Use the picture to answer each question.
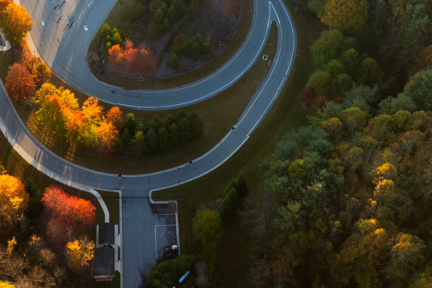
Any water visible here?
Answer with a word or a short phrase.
No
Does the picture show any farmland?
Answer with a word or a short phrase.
No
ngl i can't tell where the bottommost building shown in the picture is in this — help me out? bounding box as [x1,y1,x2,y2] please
[91,247,115,285]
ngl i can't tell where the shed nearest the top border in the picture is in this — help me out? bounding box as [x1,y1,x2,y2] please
[98,223,116,250]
